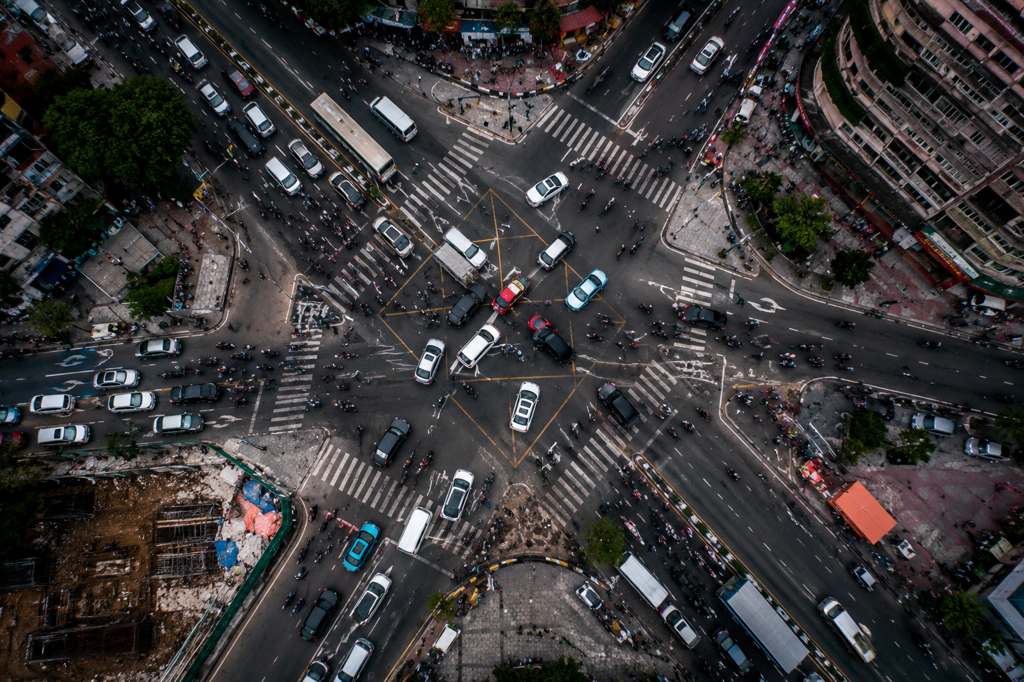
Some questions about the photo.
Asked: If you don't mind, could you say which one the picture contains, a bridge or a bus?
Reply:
bus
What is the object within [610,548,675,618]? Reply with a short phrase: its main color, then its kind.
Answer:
white truck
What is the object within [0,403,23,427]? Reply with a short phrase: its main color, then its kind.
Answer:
blue car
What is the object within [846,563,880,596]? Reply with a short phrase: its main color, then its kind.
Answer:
black car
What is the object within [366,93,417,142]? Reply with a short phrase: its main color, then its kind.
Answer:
white van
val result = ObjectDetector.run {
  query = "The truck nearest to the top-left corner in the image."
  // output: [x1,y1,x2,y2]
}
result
[10,0,58,31]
